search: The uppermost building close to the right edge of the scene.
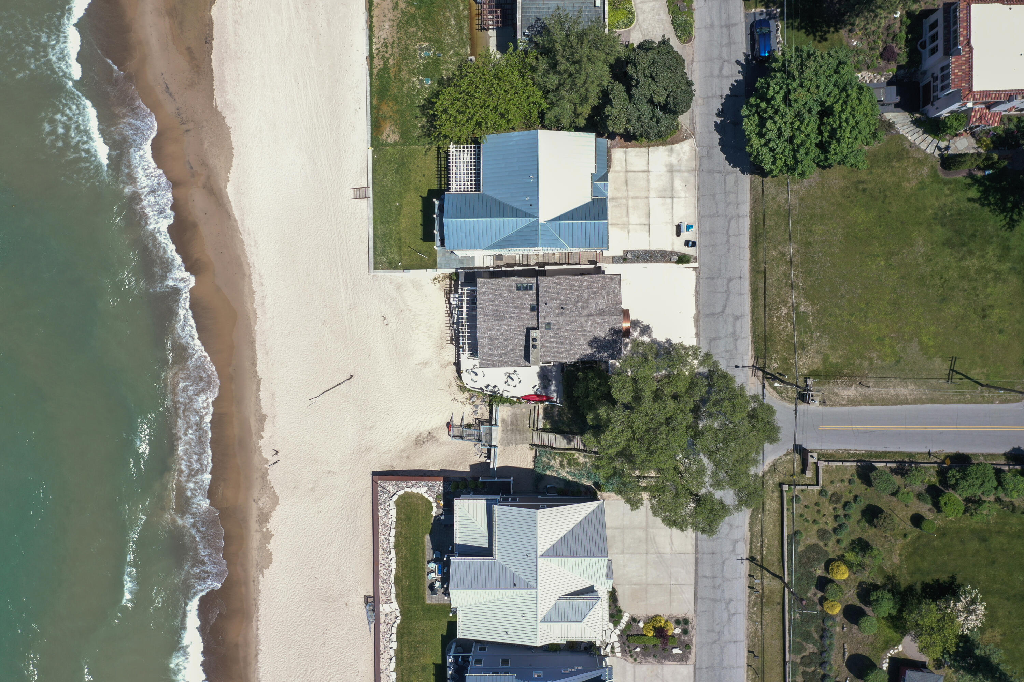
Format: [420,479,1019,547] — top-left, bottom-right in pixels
[916,0,1024,126]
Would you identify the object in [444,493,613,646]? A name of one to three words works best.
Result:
house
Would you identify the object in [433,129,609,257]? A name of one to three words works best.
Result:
house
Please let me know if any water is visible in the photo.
Yes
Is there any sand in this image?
Yes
